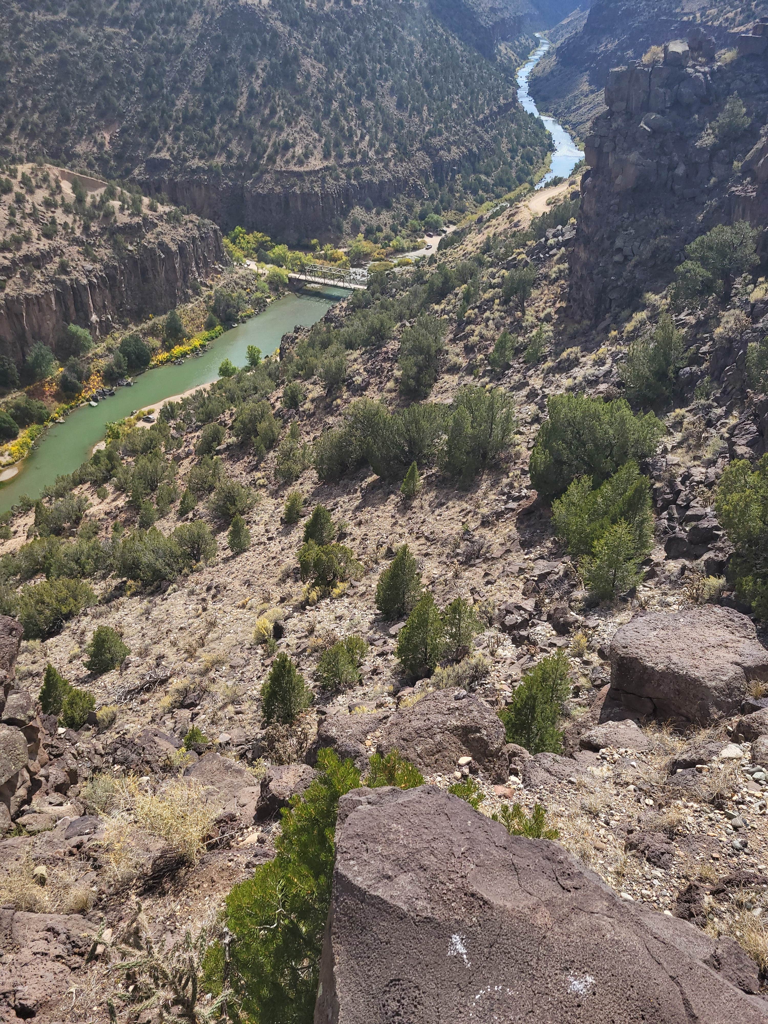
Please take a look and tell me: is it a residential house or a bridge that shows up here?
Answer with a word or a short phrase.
bridge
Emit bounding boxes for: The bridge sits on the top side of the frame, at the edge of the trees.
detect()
[276,263,369,299]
